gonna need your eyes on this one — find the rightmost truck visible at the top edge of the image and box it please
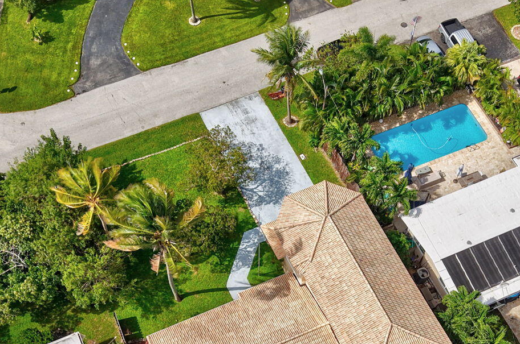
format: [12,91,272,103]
[439,17,482,54]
